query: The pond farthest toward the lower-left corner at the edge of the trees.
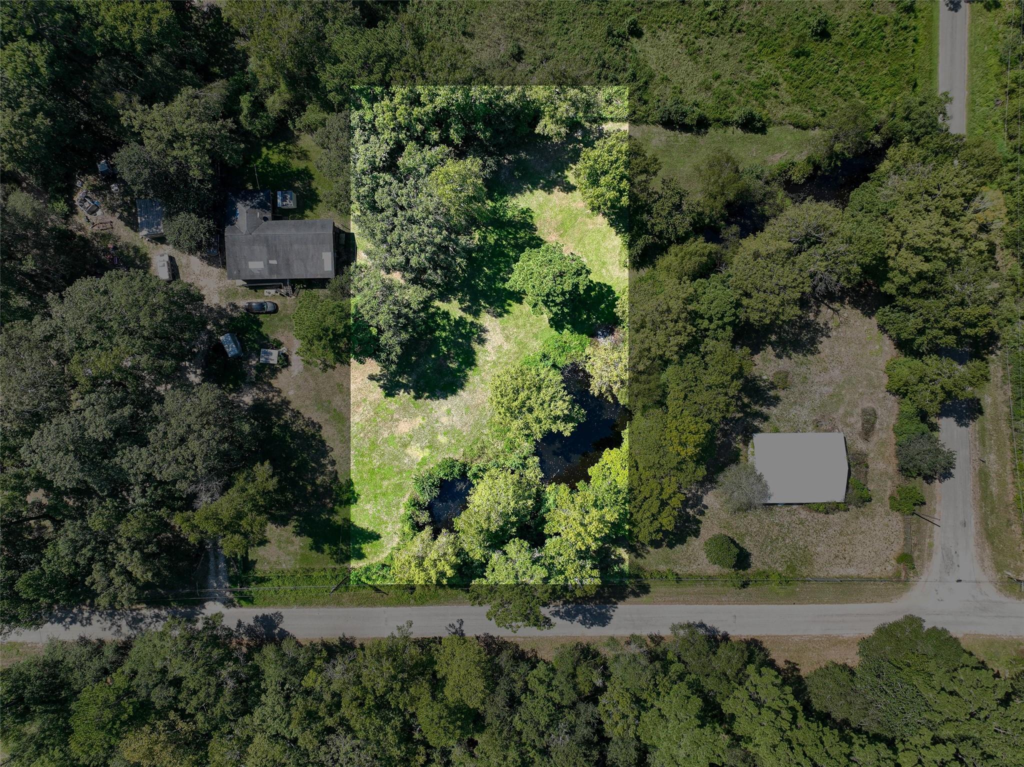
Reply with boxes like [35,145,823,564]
[425,472,481,536]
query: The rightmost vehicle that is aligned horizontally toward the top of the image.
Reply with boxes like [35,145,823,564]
[243,299,276,314]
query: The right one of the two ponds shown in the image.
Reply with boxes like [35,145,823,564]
[531,325,642,494]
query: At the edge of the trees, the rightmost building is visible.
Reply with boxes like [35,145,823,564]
[741,433,846,505]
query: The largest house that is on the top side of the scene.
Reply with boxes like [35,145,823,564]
[221,191,336,297]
